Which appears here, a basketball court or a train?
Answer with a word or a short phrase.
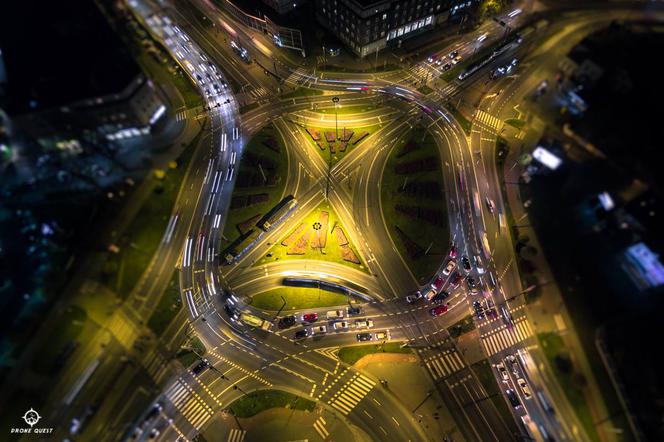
train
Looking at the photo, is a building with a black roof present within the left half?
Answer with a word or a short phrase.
Yes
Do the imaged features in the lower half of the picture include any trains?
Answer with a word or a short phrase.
Yes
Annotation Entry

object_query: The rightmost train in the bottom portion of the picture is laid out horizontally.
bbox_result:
[282,275,371,301]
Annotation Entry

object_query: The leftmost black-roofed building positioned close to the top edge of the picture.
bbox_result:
[0,0,164,164]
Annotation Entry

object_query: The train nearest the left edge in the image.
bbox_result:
[227,194,300,264]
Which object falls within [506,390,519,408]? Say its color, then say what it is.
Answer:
black vehicle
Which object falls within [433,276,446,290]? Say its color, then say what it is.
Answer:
red vehicle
